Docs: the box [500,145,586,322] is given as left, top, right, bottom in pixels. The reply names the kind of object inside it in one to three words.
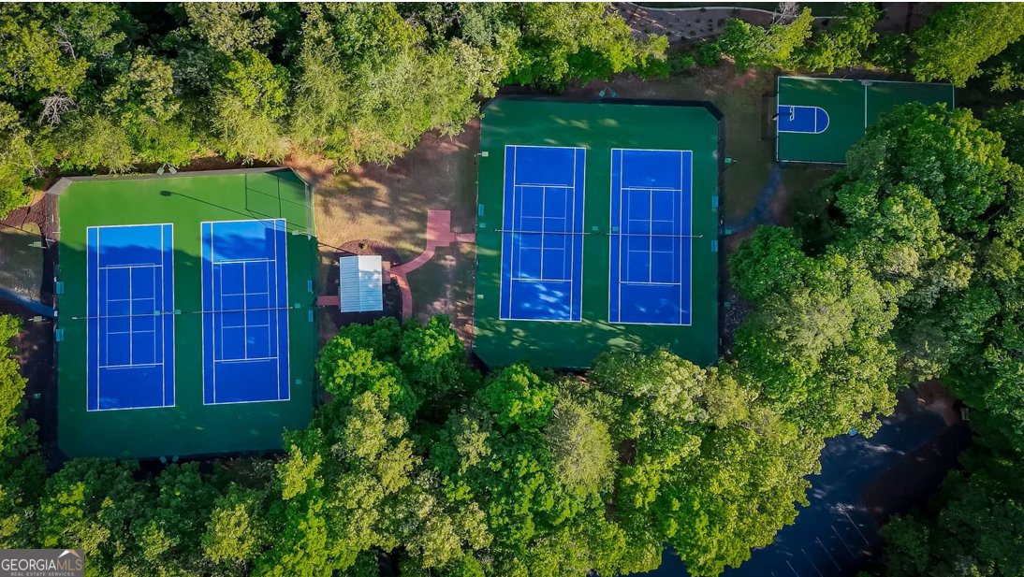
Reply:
tennis court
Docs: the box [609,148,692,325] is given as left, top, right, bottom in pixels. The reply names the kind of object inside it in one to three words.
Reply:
tennis court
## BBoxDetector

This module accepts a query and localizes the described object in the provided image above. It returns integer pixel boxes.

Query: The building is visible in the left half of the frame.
[340,255,385,312]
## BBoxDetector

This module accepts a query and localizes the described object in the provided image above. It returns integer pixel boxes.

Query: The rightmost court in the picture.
[777,76,955,164]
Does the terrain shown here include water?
No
